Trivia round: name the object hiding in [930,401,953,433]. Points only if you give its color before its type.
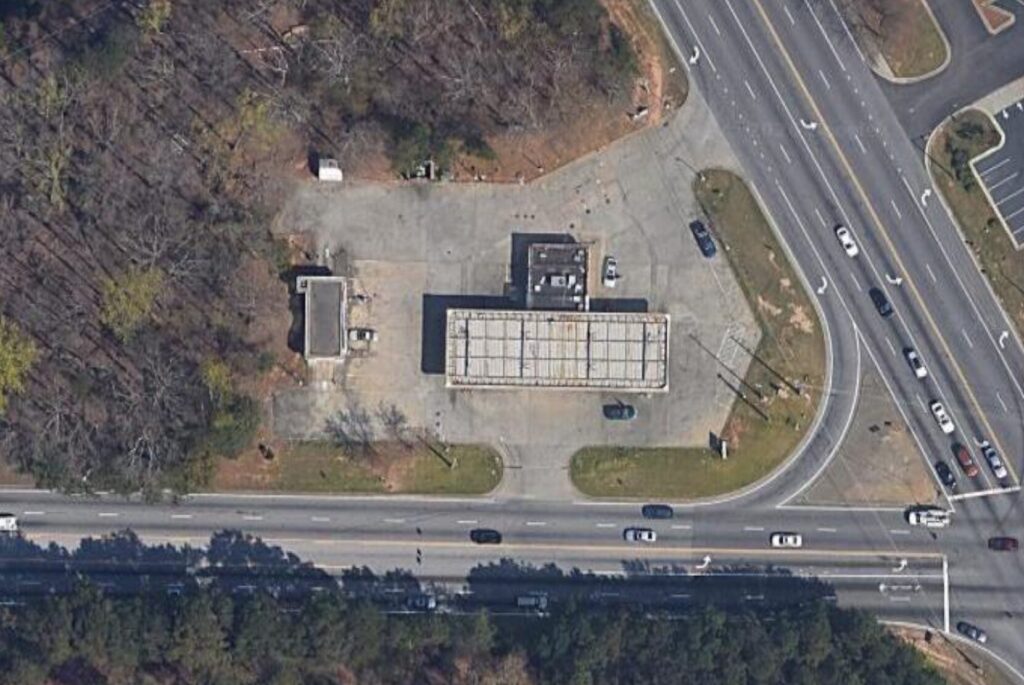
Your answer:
white car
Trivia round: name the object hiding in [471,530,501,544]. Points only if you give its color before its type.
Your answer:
black car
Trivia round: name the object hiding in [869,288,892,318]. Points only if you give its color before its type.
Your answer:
black car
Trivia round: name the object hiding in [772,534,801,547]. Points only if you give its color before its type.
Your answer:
white vehicle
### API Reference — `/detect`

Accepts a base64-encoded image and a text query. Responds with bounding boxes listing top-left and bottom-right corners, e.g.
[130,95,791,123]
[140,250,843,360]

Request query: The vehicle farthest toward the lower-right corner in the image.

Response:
[956,621,986,643]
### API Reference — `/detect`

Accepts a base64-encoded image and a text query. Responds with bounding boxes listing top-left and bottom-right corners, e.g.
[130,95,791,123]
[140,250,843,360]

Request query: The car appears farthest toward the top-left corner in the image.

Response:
[349,329,378,342]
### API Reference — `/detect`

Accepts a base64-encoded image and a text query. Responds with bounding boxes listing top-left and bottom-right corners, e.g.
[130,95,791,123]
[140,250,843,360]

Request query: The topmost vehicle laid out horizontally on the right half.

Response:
[604,405,635,419]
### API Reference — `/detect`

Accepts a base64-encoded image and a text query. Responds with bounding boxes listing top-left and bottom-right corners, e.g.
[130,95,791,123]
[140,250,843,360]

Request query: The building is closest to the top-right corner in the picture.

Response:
[527,245,594,312]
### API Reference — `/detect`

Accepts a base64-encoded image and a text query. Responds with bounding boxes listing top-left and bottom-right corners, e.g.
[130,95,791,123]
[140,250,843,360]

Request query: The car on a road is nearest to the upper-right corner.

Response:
[835,227,858,256]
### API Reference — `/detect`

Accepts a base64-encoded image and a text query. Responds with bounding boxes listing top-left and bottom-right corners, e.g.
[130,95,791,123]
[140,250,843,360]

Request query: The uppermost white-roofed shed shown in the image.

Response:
[317,156,342,182]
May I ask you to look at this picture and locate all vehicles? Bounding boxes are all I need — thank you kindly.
[988,537,1018,551]
[604,405,635,419]
[981,445,1006,478]
[956,621,986,643]
[953,444,978,476]
[934,459,957,489]
[349,329,378,342]
[835,227,858,256]
[930,401,953,433]
[0,515,20,531]
[690,221,715,257]
[625,529,656,542]
[907,510,949,526]
[471,530,501,544]
[904,348,927,378]
[604,257,621,286]
[772,534,801,547]
[642,504,673,518]
[869,288,892,318]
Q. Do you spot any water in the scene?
No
